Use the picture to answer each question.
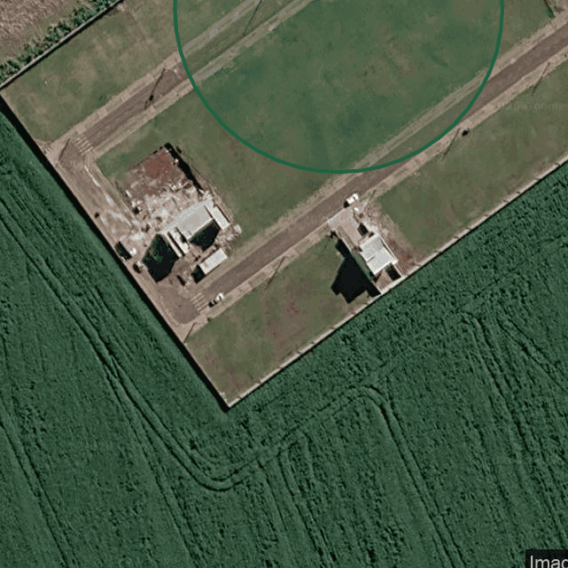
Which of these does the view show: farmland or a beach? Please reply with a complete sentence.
This image shows farmland.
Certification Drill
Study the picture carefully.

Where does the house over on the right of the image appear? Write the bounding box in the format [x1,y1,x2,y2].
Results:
[329,207,397,288]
